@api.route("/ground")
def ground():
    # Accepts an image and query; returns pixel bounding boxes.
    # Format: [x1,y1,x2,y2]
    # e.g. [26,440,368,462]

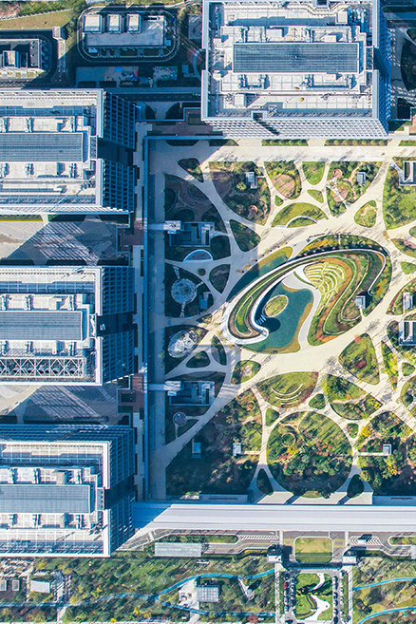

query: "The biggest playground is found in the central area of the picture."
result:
[167,329,199,358]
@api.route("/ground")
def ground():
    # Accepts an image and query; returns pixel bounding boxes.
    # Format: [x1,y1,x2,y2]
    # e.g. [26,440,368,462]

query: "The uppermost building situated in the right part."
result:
[202,0,387,136]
